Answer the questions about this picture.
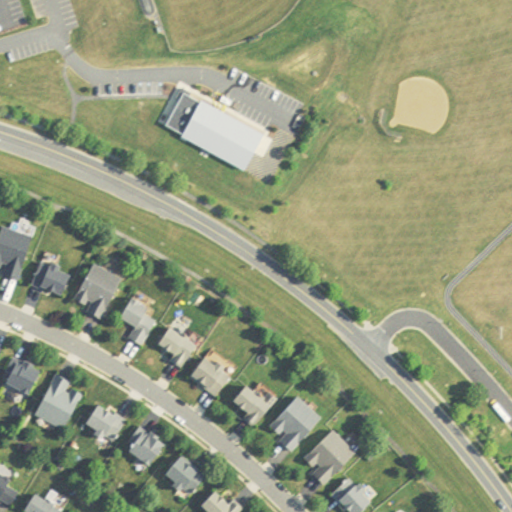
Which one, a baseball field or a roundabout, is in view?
baseball field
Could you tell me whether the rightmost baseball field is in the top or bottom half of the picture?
top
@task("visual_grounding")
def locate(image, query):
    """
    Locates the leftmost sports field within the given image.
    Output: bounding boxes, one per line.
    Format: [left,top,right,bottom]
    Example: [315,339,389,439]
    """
[152,0,298,54]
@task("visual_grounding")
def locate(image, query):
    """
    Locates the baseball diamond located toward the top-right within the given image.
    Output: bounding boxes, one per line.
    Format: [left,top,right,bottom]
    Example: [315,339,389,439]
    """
[380,76,450,142]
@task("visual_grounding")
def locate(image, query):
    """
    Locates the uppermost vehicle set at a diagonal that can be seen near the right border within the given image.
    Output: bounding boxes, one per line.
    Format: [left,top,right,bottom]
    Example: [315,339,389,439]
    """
[490,400,512,424]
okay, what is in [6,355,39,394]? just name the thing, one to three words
house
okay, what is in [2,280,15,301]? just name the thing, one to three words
vehicle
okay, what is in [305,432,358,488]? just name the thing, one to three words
house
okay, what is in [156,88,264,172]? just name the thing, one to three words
building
